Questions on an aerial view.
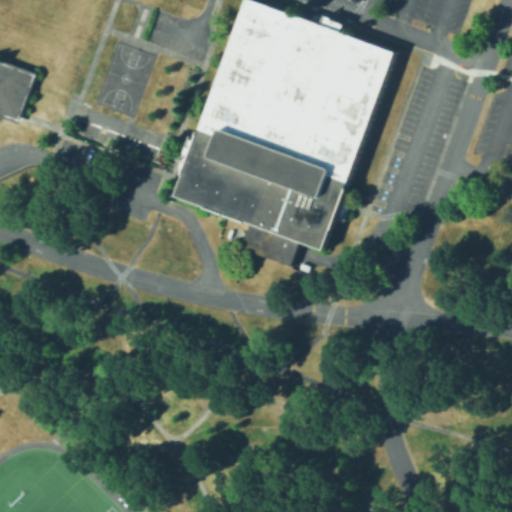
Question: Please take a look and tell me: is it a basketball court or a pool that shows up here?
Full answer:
The one in the frame is a basketball court.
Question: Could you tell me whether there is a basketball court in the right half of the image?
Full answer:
No, I can find no basketball court in the right half of the image.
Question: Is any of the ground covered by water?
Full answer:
No, the scene doesn't show any water.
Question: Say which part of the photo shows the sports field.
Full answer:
Look in the bottom left portion of the view to spot the sports field.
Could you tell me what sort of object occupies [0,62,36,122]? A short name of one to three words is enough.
building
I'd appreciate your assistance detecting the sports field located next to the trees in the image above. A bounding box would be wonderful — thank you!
[0,442,132,512]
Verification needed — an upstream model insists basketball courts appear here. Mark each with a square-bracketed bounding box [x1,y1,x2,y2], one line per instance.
[98,42,157,118]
